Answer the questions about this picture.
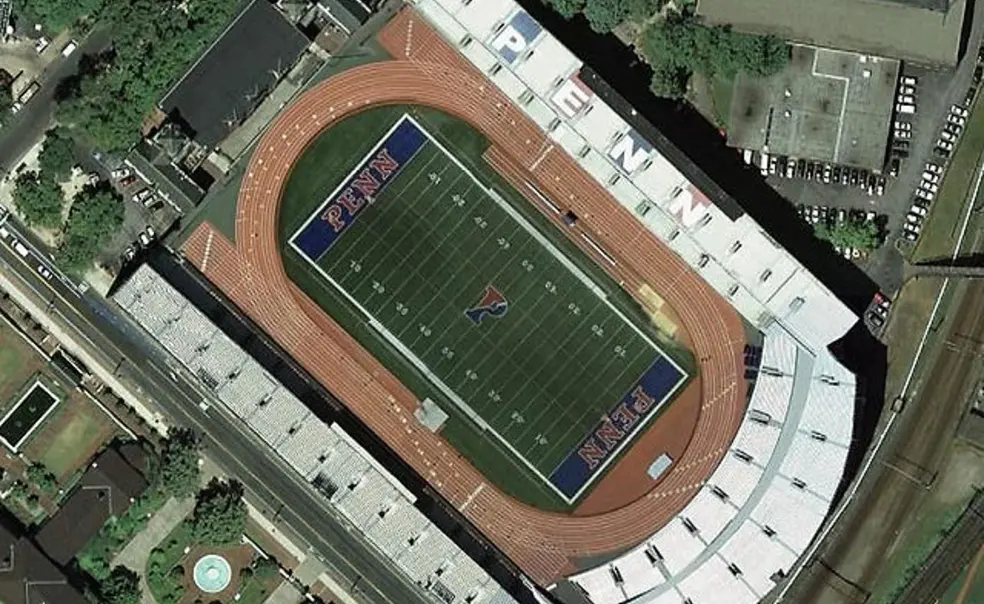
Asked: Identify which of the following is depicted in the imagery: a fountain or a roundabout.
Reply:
fountain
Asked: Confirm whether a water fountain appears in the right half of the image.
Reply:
No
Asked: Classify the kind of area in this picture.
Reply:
sports ground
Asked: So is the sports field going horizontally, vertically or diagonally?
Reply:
diagonally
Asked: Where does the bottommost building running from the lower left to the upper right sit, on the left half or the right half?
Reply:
left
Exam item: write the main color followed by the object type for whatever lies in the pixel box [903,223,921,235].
white vehicle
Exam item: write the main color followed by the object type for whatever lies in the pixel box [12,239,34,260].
white vehicle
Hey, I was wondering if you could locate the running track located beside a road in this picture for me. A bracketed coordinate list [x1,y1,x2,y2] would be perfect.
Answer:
[178,5,745,589]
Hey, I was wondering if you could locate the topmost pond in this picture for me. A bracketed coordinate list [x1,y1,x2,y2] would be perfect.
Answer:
[0,379,61,450]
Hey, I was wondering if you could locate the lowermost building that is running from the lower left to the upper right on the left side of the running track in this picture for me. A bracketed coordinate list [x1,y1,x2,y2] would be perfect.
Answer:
[32,436,156,567]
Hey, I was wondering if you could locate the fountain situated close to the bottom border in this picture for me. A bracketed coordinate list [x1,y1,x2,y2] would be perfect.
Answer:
[193,554,232,592]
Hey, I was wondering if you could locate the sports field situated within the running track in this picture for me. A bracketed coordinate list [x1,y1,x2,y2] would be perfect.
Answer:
[280,105,688,503]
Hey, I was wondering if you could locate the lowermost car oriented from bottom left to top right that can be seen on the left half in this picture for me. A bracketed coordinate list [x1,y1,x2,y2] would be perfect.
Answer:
[122,244,135,260]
